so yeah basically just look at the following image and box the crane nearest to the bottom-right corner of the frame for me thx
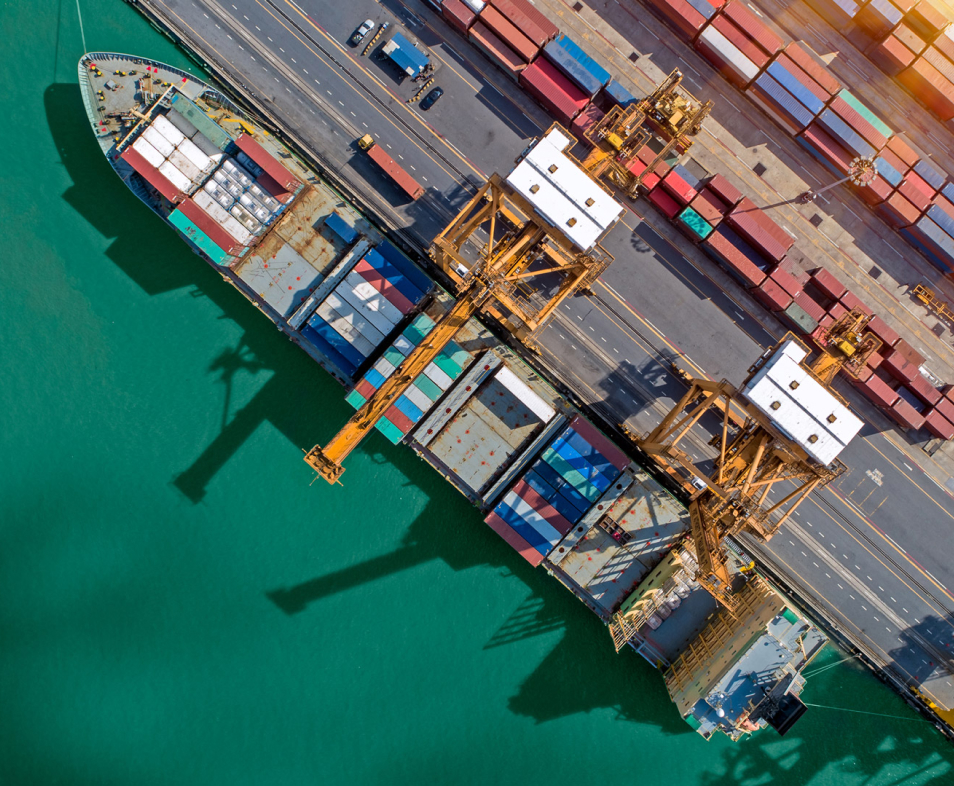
[917,692,954,731]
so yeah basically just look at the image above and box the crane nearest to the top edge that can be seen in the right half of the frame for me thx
[616,66,715,202]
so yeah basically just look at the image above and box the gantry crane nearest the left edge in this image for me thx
[303,101,652,487]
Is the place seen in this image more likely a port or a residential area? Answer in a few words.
port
